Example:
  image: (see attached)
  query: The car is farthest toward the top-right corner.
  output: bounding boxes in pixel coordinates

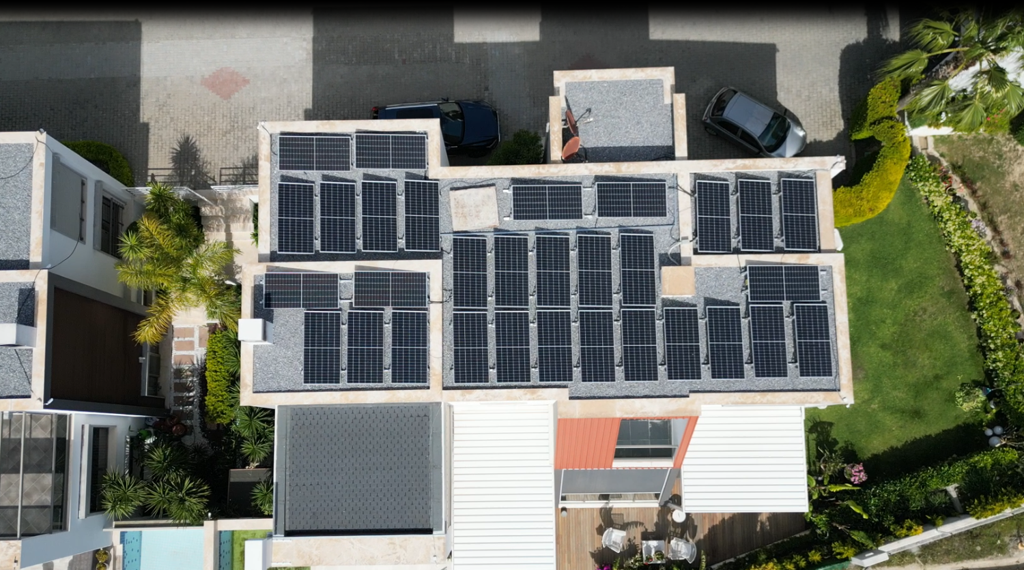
[703,82,805,158]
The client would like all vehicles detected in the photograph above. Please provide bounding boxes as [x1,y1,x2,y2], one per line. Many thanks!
[703,82,805,158]
[371,97,498,158]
